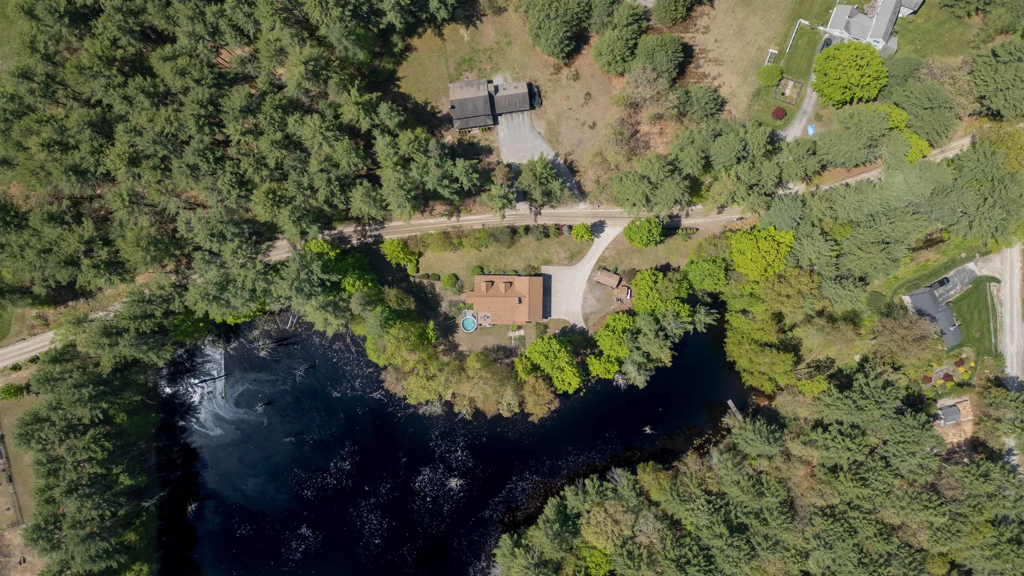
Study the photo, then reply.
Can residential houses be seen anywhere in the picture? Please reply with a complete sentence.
Yes, the picture does show a residential house.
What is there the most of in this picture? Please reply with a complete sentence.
What you mostly see from above here is trees.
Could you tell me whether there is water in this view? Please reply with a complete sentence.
Yes, water can be seen from above here.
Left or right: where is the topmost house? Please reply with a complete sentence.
It is on the right.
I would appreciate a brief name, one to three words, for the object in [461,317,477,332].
swimming pool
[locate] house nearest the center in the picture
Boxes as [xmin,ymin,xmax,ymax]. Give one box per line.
[466,275,543,324]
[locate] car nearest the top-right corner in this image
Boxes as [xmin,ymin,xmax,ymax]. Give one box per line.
[819,35,832,53]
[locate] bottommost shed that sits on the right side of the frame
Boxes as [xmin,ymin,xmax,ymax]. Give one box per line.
[935,401,963,421]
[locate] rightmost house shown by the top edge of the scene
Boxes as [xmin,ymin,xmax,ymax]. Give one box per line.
[820,0,927,56]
